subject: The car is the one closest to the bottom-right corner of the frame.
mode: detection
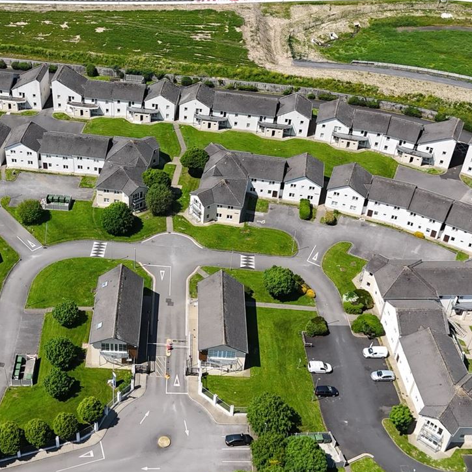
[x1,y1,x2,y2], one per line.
[371,368,396,380]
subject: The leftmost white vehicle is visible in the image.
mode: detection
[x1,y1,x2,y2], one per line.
[307,357,333,372]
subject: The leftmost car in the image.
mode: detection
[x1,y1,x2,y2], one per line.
[225,431,252,446]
